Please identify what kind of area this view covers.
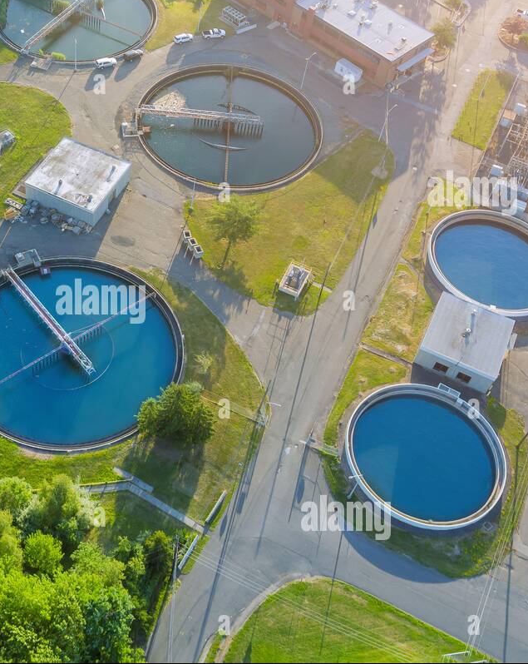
industrial area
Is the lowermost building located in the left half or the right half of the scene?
right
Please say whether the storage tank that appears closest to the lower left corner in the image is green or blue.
blue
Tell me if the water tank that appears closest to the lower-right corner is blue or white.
blue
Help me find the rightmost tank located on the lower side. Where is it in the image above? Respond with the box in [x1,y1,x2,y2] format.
[339,379,509,538]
